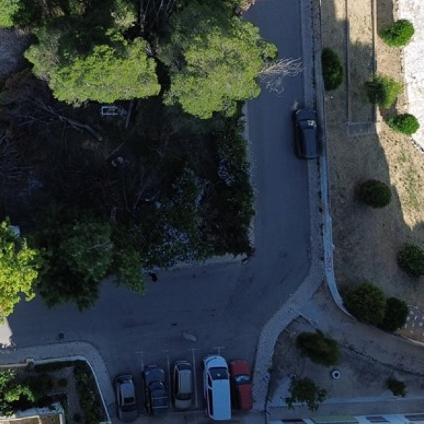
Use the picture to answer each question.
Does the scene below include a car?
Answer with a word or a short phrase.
Yes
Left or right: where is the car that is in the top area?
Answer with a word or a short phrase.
right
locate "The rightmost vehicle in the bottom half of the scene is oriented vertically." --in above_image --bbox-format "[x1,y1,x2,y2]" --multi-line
[226,357,255,413]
